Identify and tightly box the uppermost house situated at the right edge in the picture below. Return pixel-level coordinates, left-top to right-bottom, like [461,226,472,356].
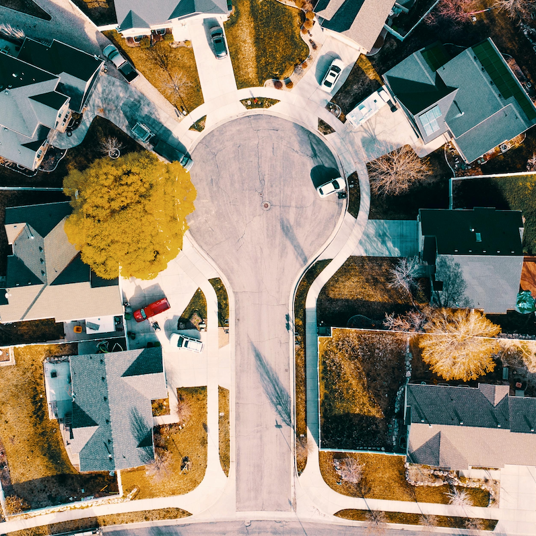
[382,36,536,164]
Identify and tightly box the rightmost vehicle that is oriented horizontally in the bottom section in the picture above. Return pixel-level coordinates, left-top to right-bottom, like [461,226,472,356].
[168,332,206,355]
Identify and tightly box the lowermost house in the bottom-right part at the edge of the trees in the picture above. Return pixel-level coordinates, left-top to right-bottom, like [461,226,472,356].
[404,383,536,468]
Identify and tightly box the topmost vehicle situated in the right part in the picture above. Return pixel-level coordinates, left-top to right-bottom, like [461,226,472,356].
[322,56,345,95]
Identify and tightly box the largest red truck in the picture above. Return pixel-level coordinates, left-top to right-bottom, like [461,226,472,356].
[133,296,172,324]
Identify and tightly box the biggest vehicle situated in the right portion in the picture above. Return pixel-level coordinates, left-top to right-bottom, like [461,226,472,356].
[345,91,386,131]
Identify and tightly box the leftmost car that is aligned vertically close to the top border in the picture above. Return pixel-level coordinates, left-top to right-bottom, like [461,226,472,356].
[207,21,227,61]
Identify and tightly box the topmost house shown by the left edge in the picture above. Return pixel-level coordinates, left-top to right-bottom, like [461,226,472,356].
[0,36,106,169]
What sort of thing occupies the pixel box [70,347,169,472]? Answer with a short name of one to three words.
house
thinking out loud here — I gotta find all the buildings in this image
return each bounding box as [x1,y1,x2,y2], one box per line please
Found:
[382,36,536,164]
[0,199,125,323]
[70,347,169,472]
[0,36,106,169]
[418,208,530,315]
[313,0,396,55]
[404,383,536,468]
[113,0,230,35]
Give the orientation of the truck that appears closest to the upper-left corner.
diagonally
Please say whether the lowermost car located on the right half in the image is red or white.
white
